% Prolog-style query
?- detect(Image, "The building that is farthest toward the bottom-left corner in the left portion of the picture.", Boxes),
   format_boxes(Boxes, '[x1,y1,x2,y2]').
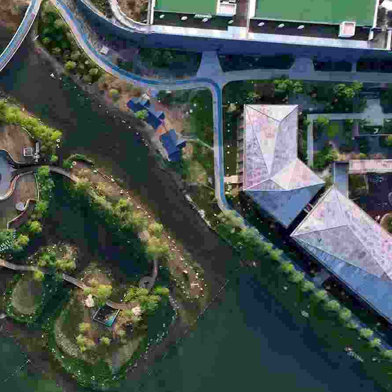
[90,304,120,327]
